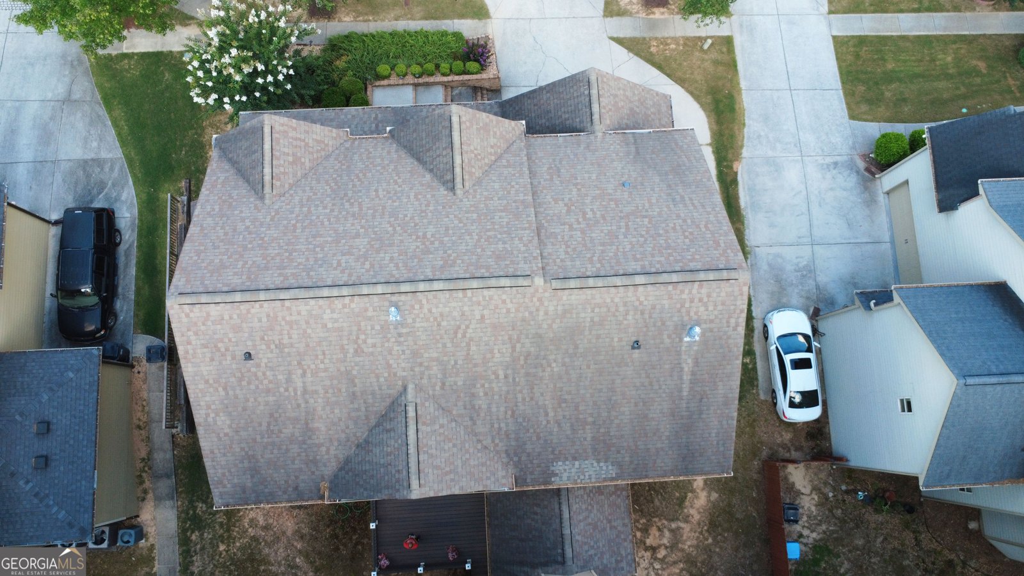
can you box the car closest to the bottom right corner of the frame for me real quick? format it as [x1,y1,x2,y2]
[763,309,822,423]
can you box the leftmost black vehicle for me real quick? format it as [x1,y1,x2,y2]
[48,206,122,342]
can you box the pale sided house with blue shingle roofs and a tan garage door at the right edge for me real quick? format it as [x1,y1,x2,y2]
[815,105,1024,563]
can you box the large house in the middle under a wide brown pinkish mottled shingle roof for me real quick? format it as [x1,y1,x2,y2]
[167,68,748,576]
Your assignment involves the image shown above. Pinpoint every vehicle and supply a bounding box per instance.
[763,309,822,423]
[48,206,122,342]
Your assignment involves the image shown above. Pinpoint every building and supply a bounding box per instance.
[815,105,1024,563]
[167,68,748,576]
[0,184,140,553]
